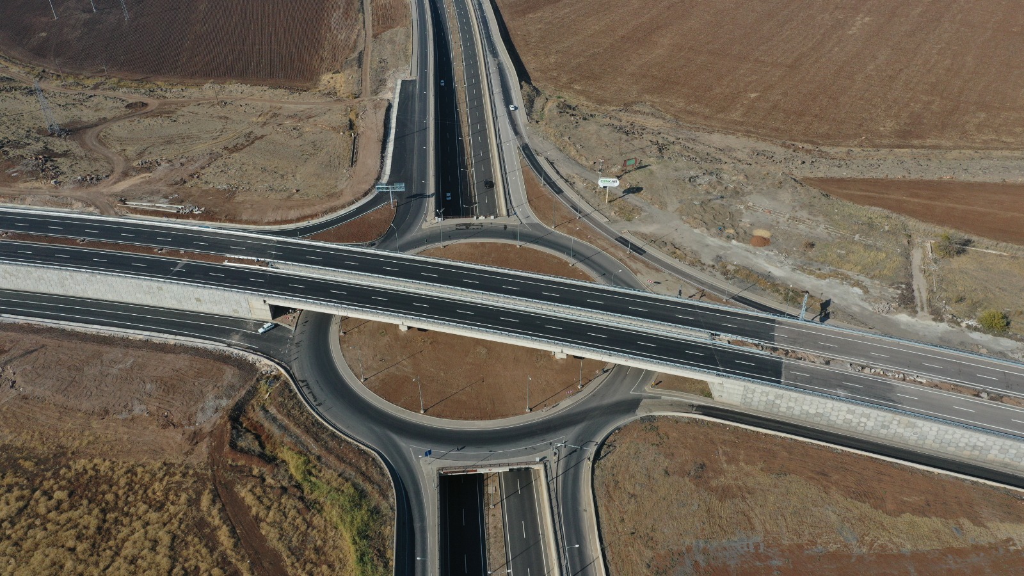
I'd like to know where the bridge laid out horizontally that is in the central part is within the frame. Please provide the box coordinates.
[226,262,760,409]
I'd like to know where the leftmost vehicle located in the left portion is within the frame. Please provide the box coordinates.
[256,322,275,334]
